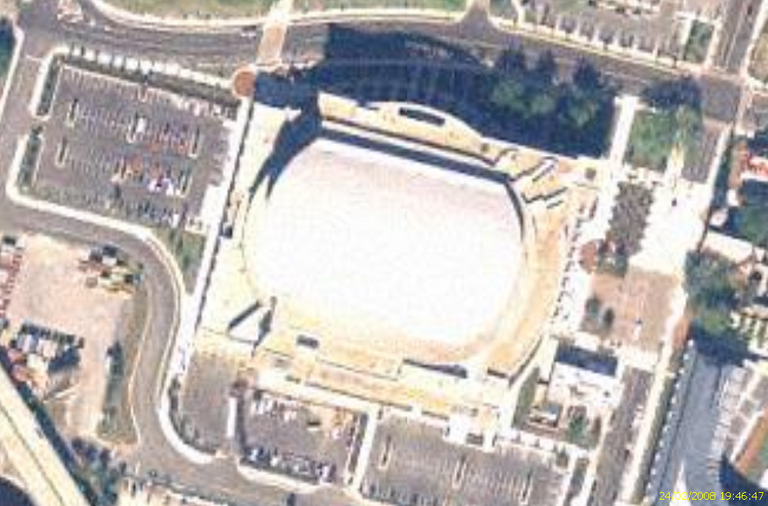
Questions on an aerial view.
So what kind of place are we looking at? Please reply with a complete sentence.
The area seen from above is a sports ground.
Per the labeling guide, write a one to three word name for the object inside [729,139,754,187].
house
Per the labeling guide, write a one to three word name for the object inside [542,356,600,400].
building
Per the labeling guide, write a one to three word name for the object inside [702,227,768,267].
building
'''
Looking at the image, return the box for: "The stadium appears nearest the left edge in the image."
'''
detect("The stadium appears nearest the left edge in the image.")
[200,94,606,451]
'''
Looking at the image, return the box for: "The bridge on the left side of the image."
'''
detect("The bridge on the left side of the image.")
[0,372,88,506]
